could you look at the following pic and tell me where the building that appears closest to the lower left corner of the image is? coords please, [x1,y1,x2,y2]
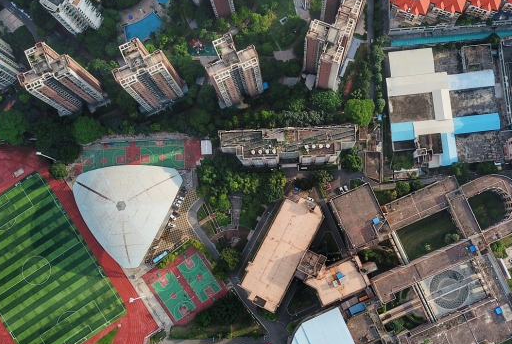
[73,164,185,268]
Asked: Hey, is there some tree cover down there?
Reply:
Yes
